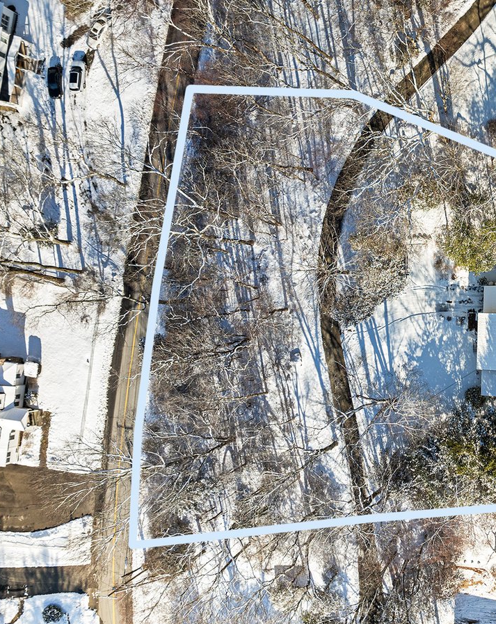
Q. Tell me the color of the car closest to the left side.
black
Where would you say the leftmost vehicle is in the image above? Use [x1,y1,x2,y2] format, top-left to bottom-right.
[41,63,61,98]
